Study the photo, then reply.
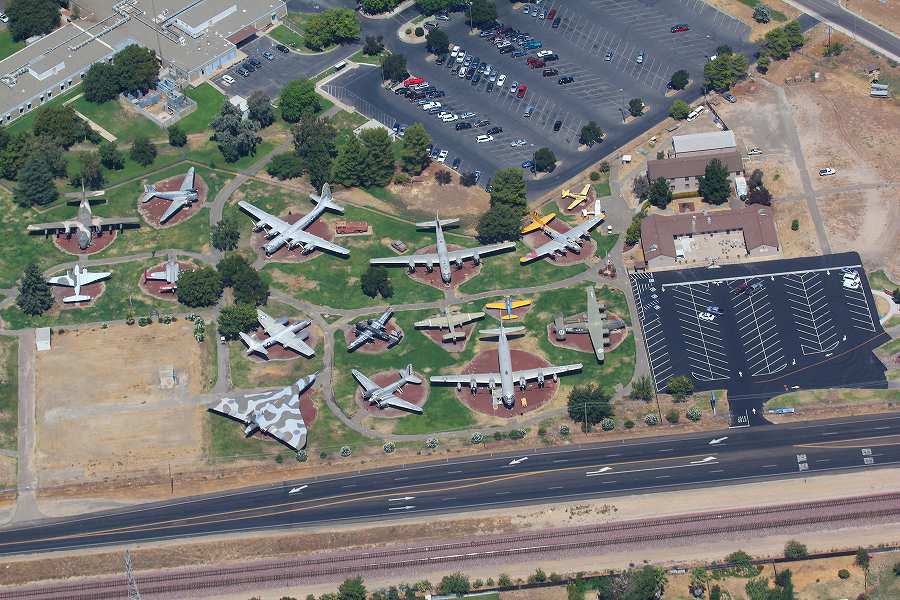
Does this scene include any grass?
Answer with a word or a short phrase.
Yes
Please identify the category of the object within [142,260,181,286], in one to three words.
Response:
airplane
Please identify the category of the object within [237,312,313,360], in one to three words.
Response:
airplane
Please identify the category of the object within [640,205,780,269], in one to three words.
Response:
building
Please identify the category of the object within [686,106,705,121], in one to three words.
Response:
car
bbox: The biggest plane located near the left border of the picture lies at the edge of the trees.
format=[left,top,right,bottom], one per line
[26,184,139,251]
